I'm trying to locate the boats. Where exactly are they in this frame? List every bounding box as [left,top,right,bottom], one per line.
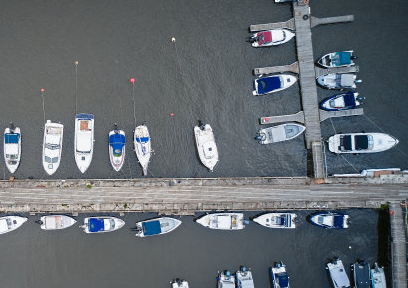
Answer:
[370,262,386,288]
[73,66,94,182]
[42,92,63,178]
[195,211,250,230]
[133,83,152,182]
[247,29,296,48]
[131,215,182,238]
[316,72,360,90]
[79,214,125,233]
[317,51,358,67]
[252,73,299,96]
[271,263,289,288]
[171,276,189,288]
[234,267,254,288]
[351,257,370,288]
[309,210,352,229]
[326,112,407,161]
[217,270,235,288]
[192,121,217,179]
[109,127,125,180]
[0,215,28,234]
[253,212,300,228]
[323,257,349,288]
[254,124,306,145]
[3,124,22,182]
[319,90,363,111]
[36,213,78,230]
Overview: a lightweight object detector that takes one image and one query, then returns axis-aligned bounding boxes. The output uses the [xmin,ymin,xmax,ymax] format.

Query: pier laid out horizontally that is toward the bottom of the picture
[0,177,408,217]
